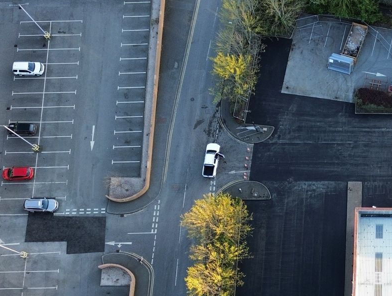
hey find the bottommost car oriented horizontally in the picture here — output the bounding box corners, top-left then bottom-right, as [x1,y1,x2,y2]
[21,197,60,212]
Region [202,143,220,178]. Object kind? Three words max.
vehicle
